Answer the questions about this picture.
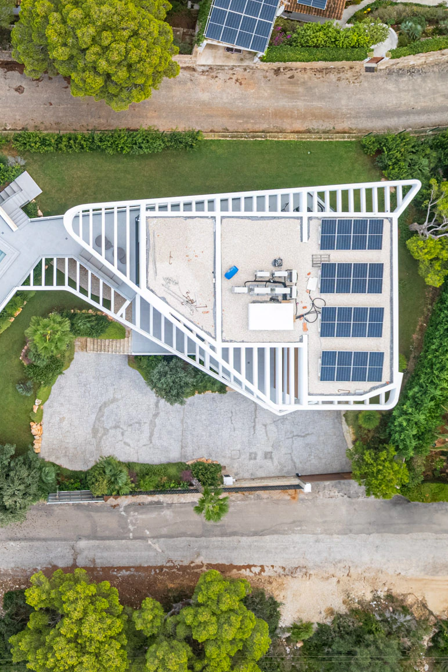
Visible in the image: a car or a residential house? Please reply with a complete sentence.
Of the two, only a residential house appears.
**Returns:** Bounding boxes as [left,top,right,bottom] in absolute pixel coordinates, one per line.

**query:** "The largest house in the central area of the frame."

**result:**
[15,180,421,415]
